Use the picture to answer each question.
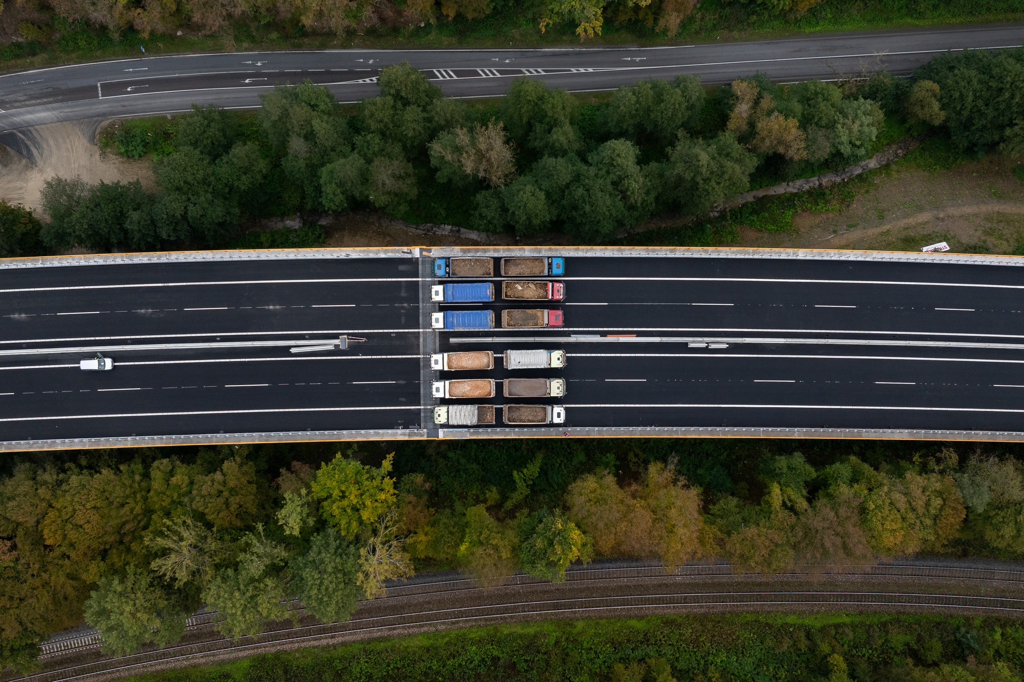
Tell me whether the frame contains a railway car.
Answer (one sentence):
No, no railway car is visible in the scene.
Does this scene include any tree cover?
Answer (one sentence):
Yes, there's tree cover in this view.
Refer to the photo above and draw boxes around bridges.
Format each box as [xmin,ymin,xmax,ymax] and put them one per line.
[0,247,1024,450]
